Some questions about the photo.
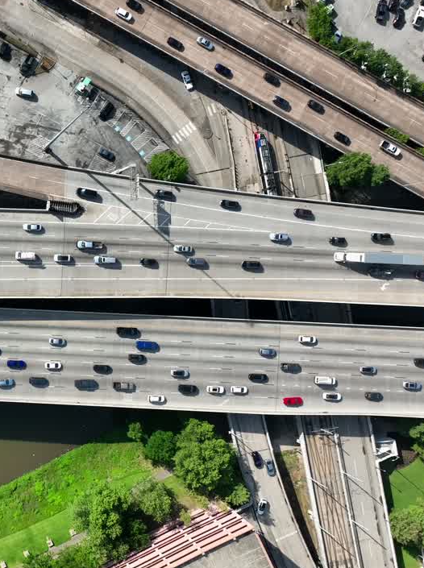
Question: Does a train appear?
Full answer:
Yes, you can see a train in this photo.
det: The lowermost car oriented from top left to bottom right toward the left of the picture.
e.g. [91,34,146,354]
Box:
[98,147,115,161]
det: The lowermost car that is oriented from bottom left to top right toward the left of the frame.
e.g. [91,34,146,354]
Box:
[101,102,114,119]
